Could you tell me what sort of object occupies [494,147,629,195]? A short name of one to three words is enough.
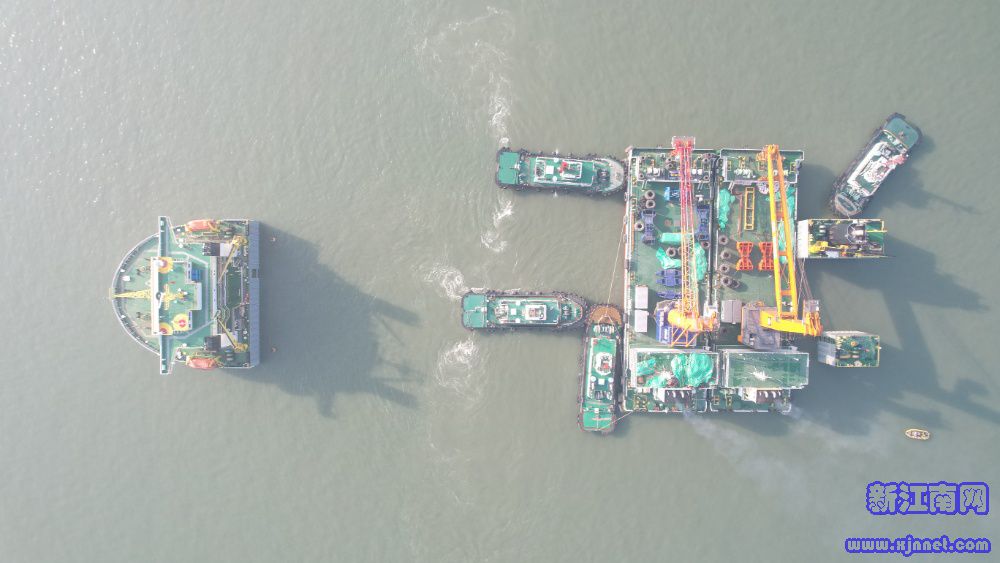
boat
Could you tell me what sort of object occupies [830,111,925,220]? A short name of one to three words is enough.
boat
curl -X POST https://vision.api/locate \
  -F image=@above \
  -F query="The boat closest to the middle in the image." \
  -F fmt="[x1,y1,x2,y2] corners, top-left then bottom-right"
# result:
[460,289,591,333]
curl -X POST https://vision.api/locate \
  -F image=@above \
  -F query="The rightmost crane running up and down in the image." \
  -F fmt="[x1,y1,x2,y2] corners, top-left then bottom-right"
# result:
[735,144,824,350]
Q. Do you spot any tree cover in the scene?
No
